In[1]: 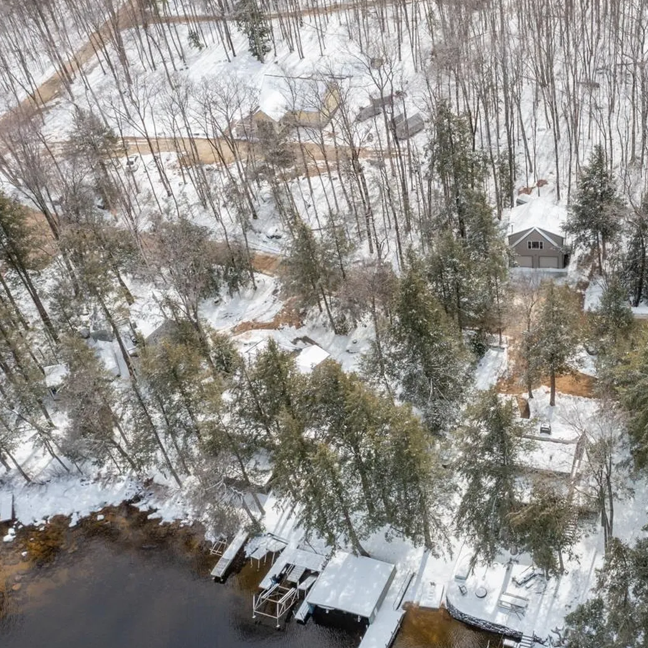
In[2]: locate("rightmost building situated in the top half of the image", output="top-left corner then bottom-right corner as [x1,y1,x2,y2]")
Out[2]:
[506,191,573,270]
